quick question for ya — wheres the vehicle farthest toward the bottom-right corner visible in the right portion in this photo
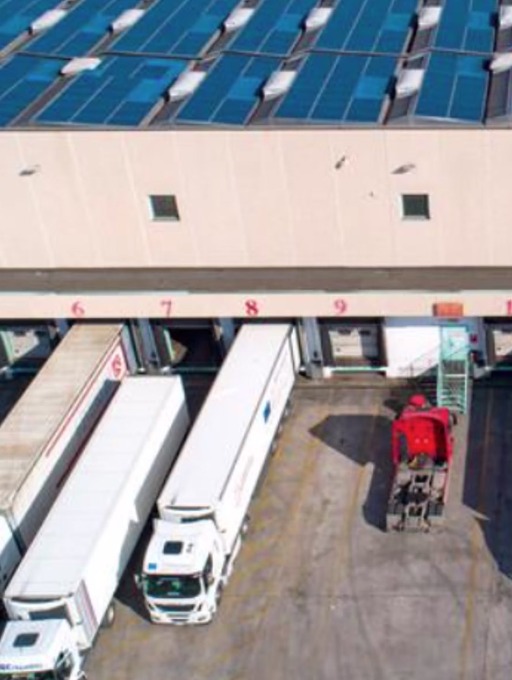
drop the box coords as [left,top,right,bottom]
[390,413,454,534]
